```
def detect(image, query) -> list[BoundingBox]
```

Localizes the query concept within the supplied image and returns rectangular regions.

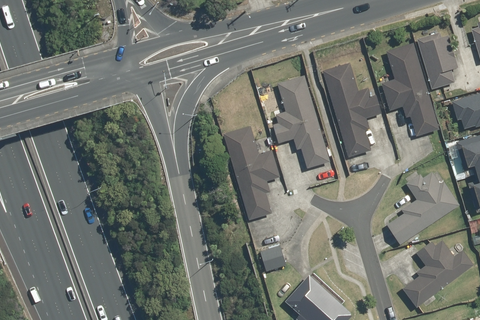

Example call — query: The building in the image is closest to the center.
[224,127,280,220]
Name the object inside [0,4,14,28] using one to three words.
vehicle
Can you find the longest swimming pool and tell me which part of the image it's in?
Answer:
right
